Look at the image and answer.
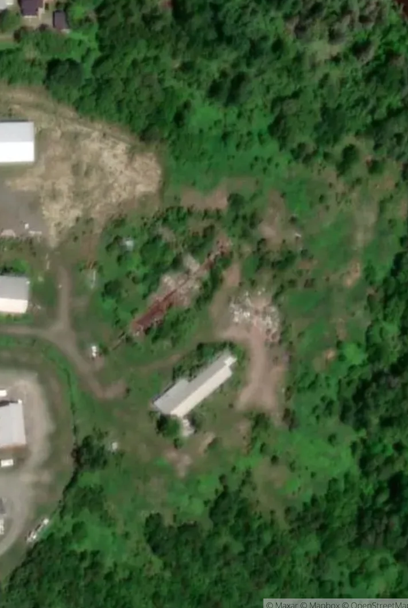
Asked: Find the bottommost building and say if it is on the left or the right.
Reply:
left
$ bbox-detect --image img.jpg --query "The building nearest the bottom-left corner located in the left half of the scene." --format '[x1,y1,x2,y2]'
[0,399,26,447]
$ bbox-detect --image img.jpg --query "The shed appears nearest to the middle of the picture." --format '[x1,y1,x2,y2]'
[131,287,185,338]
